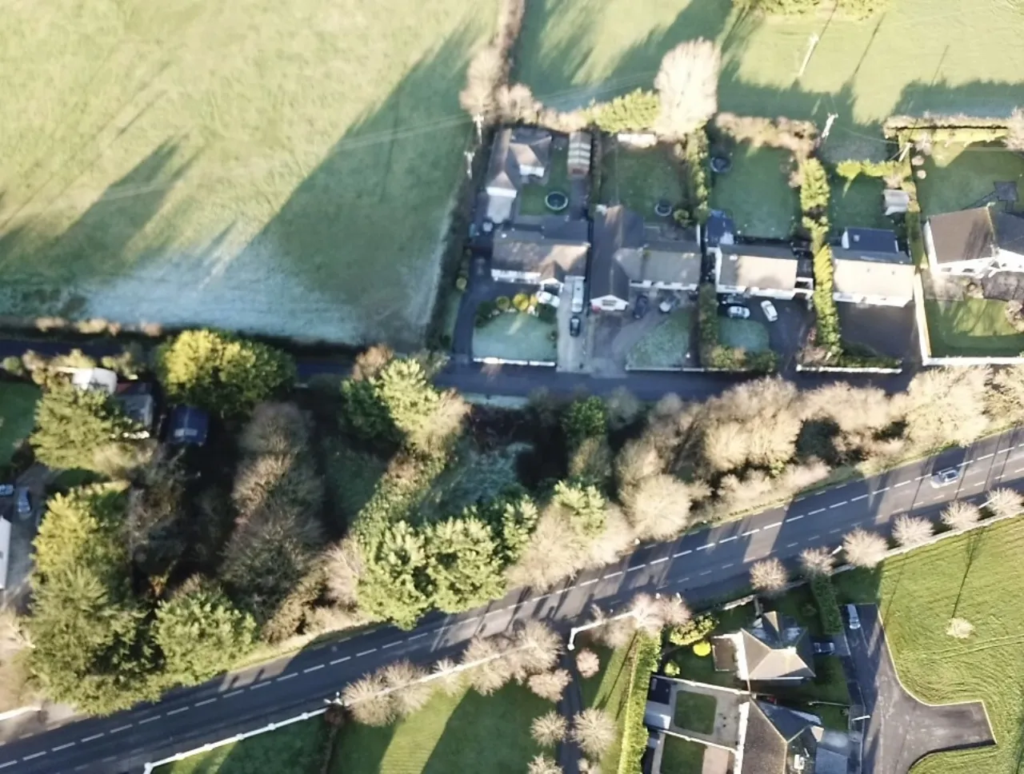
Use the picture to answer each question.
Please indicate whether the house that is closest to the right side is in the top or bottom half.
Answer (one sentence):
Seen from above, the house that is closest to the right side lies in the top half of the view.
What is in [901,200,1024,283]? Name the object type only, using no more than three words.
house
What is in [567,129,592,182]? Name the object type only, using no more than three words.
shed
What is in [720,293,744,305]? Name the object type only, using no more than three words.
vehicle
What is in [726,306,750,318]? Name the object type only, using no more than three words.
vehicle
